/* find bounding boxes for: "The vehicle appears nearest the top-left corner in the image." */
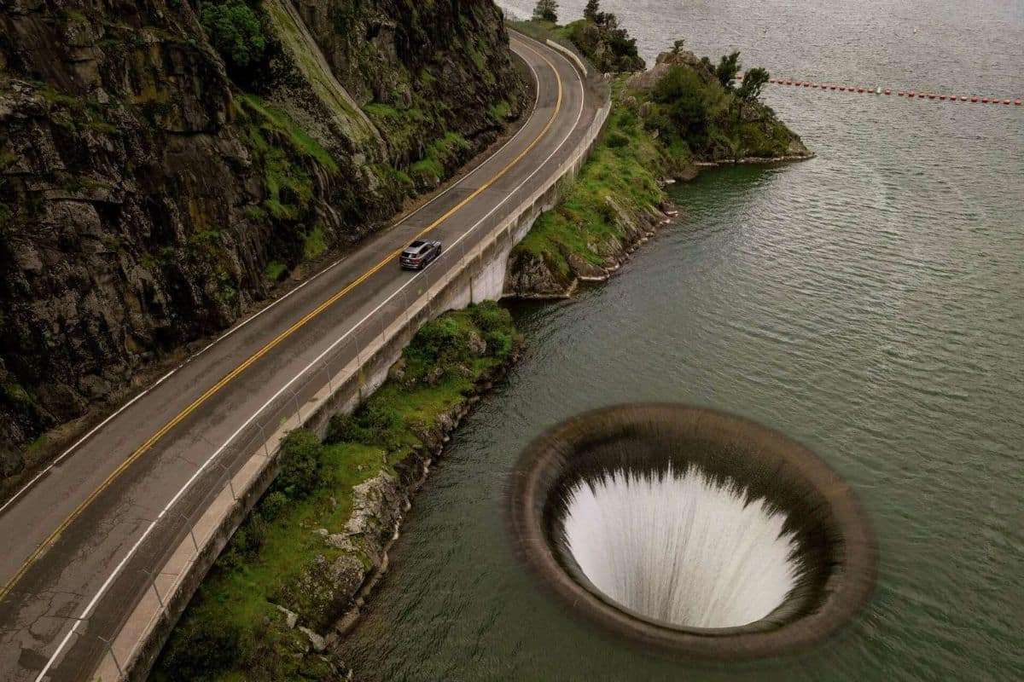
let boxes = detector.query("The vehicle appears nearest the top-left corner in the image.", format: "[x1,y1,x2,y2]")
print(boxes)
[398,242,443,272]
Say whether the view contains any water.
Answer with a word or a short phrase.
Yes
